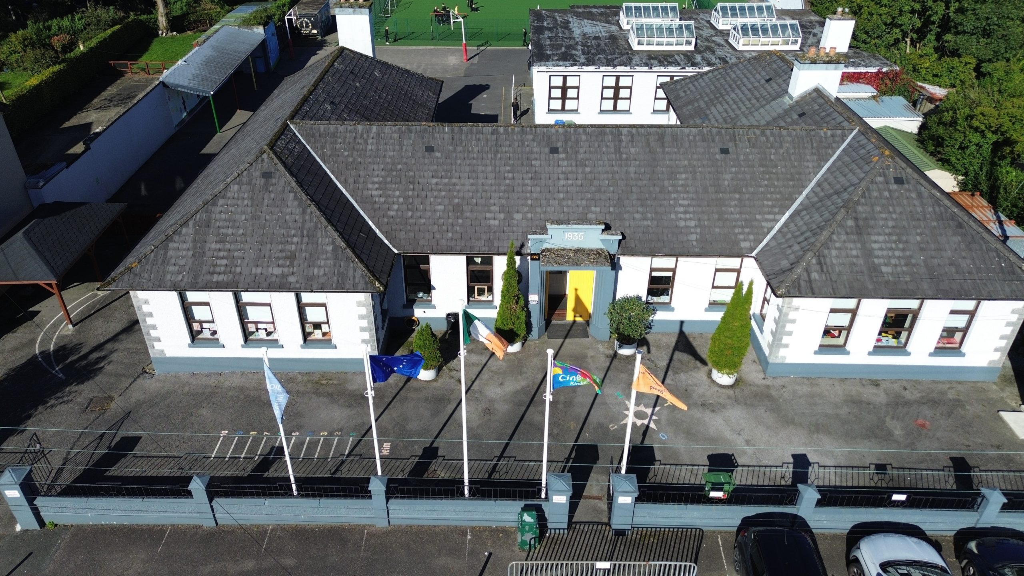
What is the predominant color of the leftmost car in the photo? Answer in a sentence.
In this view, the leftmost car is black.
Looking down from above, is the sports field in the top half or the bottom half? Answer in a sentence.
The sports field is in the top half of the image.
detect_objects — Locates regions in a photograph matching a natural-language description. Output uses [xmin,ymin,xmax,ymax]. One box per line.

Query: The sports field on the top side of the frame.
[336,0,958,51]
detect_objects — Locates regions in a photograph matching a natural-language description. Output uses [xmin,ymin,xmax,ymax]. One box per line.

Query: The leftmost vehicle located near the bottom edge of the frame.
[735,517,835,576]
